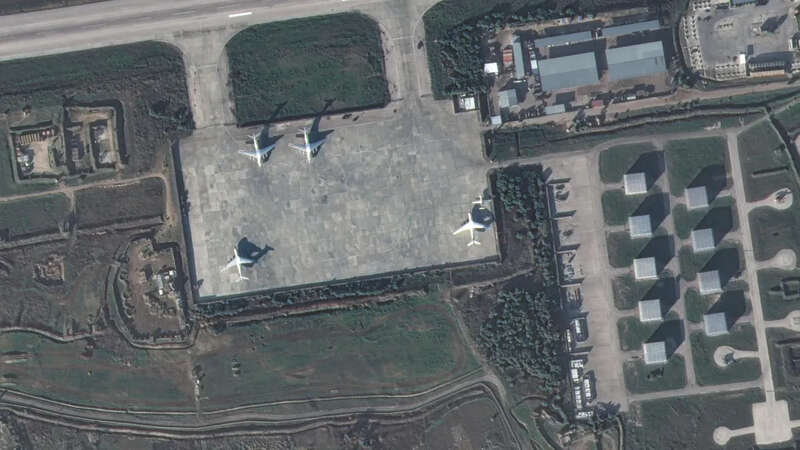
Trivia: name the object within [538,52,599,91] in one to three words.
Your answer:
building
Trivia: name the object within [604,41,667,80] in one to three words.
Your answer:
building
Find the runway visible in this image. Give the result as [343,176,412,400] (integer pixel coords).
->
[0,0,344,62]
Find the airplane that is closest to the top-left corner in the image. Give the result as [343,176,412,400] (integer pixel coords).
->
[238,131,275,166]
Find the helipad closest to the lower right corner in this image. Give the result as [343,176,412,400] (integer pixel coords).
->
[713,427,756,445]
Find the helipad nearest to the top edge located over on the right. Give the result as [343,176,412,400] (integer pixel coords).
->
[744,189,792,210]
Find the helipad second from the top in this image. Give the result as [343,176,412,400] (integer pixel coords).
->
[752,249,796,271]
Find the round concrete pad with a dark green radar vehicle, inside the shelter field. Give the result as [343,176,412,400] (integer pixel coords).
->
[712,346,763,366]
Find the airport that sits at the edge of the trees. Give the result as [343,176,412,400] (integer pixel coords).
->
[0,0,501,301]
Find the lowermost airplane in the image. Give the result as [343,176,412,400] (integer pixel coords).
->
[220,248,257,280]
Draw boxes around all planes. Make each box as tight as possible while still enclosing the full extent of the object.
[453,212,491,244]
[288,127,325,163]
[220,248,257,280]
[238,131,275,166]
[472,197,491,211]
